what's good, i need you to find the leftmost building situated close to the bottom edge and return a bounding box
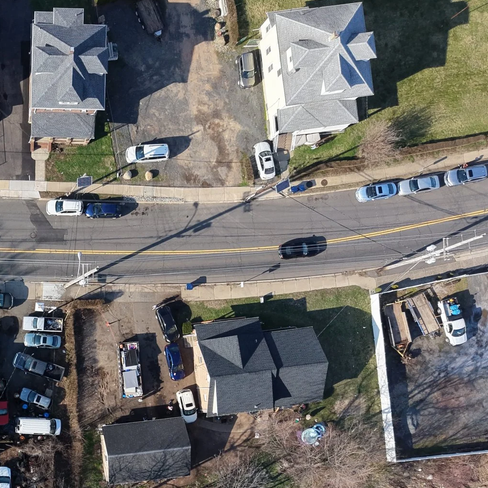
[100,416,191,484]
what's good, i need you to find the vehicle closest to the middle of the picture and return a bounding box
[278,238,319,260]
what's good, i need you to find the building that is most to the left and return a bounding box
[28,7,122,150]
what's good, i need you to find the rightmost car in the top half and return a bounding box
[441,162,488,190]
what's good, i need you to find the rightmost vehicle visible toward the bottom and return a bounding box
[433,296,468,347]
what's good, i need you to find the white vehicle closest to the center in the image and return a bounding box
[251,141,277,182]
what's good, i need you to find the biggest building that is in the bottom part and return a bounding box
[177,317,328,418]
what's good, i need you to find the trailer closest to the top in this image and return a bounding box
[136,0,163,36]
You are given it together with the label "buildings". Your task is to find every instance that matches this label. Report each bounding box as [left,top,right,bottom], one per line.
[28,7,122,150]
[100,416,191,484]
[177,317,328,418]
[251,1,377,161]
